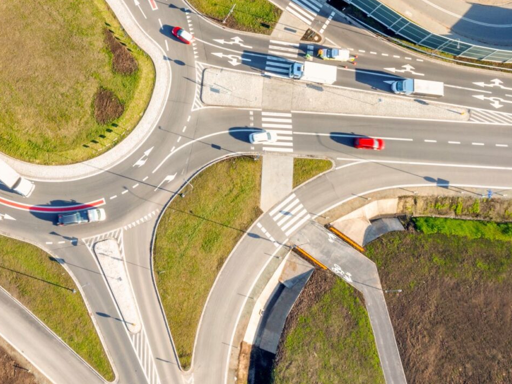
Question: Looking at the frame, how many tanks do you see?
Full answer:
Not a single tank can be seen.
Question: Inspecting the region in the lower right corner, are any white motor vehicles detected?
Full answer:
No, no white motor vehicle is visible in the lower right corner.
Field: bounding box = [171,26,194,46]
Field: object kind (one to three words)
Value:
car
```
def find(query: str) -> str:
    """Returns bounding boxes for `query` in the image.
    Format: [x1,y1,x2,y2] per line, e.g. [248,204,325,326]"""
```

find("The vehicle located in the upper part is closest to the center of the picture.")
[248,130,278,144]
